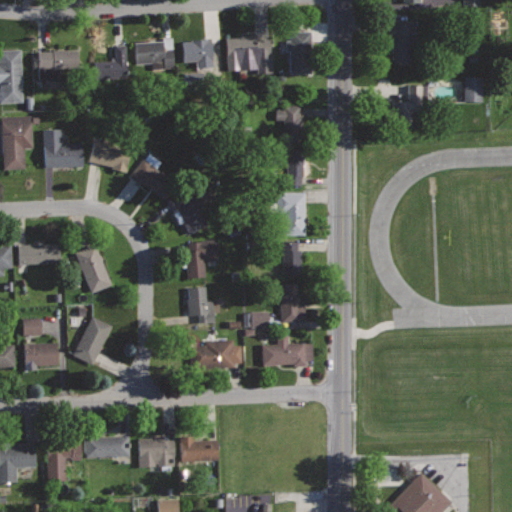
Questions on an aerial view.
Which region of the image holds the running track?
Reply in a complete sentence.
The running track is in the right part of the image.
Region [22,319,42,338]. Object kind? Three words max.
building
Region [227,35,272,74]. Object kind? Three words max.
house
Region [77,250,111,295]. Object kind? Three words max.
house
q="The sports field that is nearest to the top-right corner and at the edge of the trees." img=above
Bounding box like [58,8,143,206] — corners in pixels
[390,168,512,304]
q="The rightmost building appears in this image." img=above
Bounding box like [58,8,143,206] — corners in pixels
[464,76,484,102]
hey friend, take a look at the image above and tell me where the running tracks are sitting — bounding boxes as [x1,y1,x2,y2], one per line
[369,146,512,330]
